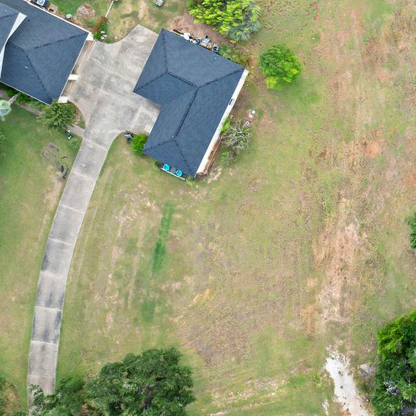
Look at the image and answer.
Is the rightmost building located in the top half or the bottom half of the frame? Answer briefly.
top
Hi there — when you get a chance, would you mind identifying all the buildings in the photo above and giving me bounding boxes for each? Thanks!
[132,29,253,178]
[0,0,99,105]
